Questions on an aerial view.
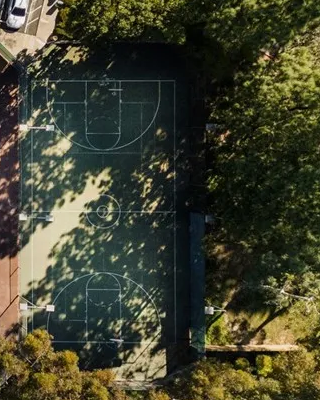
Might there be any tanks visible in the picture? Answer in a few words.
No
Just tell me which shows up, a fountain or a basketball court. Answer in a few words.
basketball court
